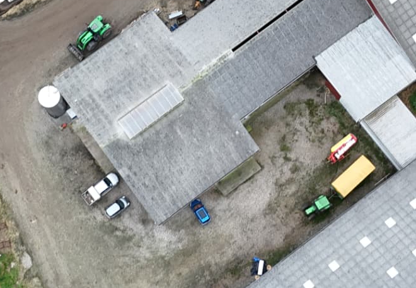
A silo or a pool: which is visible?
silo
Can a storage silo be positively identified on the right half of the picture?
No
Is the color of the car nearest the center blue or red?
blue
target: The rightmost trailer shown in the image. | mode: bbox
[326,155,375,201]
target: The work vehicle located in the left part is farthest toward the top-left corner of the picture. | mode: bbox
[67,17,111,60]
